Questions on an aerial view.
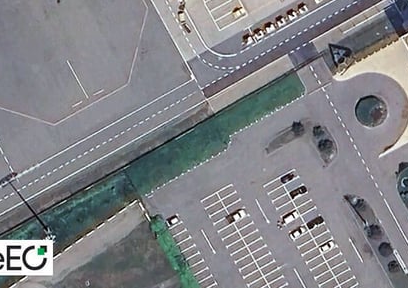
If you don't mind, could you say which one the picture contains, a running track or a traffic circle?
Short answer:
traffic circle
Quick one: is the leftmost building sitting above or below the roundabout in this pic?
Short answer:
above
